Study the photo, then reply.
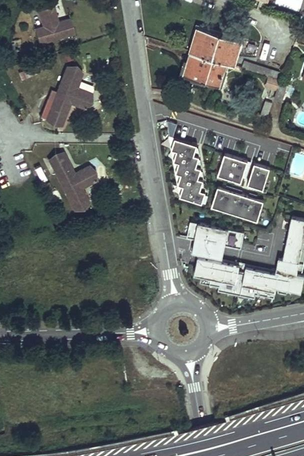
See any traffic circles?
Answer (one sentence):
Yes, there is a traffic circle in the image.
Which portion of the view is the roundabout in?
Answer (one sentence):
Look in the bottom portion of the view to spot the roundabout.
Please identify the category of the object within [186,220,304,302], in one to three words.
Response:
building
